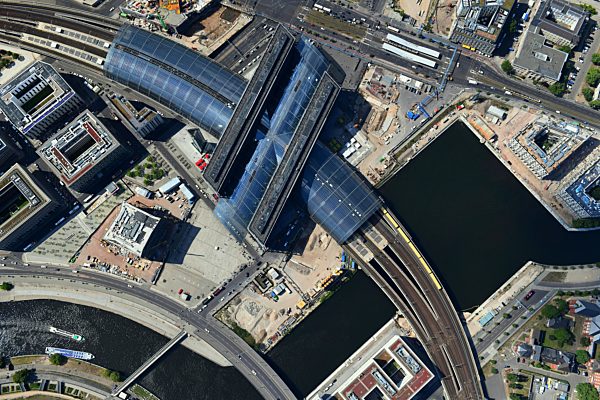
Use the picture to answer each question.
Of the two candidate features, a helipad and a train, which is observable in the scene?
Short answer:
train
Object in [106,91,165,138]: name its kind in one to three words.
building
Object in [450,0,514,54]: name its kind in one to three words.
building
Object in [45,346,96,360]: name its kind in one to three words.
boat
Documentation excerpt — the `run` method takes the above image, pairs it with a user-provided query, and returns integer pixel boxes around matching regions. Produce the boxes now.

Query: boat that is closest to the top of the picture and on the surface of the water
[49,326,84,341]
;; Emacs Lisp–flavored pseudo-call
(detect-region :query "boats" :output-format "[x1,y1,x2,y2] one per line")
[49,326,84,341]
[45,346,96,360]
